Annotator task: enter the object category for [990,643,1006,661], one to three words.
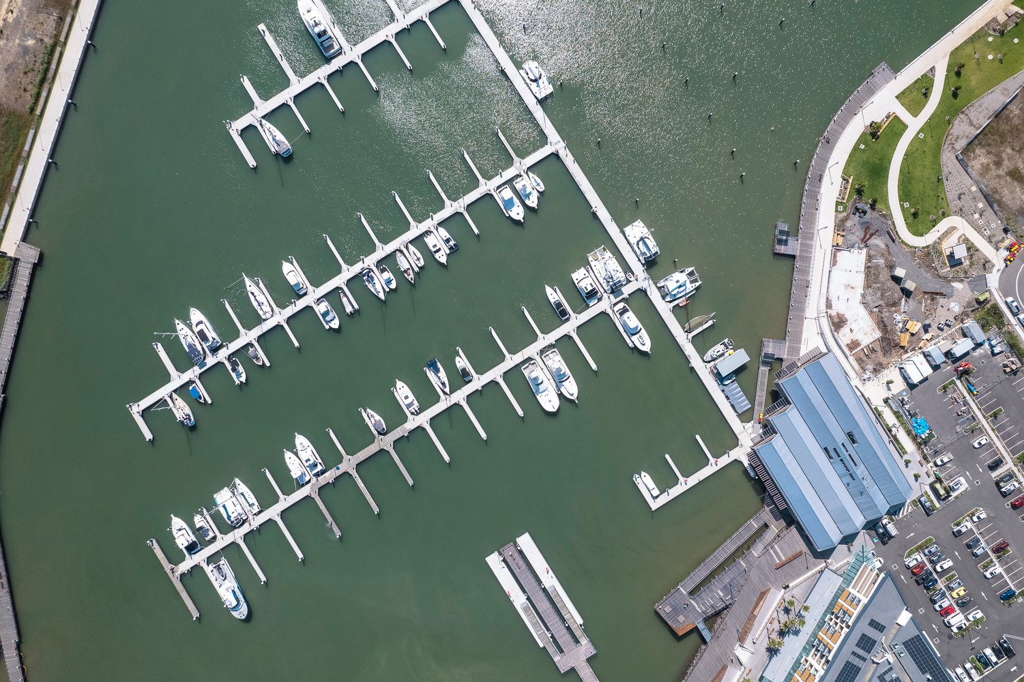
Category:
car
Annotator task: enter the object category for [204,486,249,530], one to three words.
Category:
boat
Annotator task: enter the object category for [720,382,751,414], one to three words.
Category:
pier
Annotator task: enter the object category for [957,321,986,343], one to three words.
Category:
building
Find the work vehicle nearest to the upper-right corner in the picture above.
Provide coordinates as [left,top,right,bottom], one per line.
[853,200,879,216]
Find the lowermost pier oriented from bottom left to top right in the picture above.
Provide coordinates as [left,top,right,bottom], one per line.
[656,508,768,627]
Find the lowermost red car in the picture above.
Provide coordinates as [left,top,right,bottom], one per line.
[938,604,956,618]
